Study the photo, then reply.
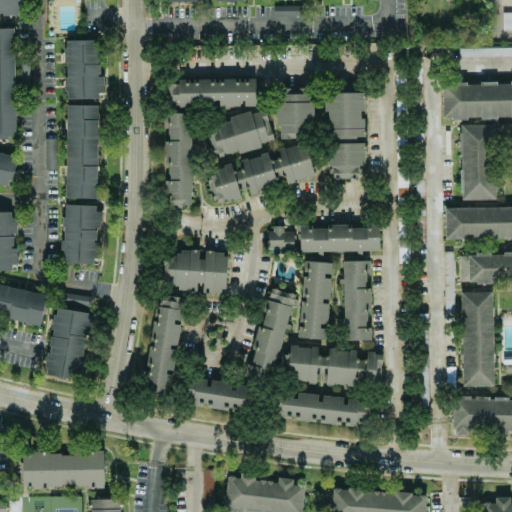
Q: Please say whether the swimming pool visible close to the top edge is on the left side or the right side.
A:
left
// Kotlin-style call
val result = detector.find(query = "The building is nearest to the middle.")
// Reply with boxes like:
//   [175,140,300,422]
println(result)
[268,226,296,252]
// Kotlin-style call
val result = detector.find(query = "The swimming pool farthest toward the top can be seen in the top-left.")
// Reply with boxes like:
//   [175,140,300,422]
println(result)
[48,0,82,37]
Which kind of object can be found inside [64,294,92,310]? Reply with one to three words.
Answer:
building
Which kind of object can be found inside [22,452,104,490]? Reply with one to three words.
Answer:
building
